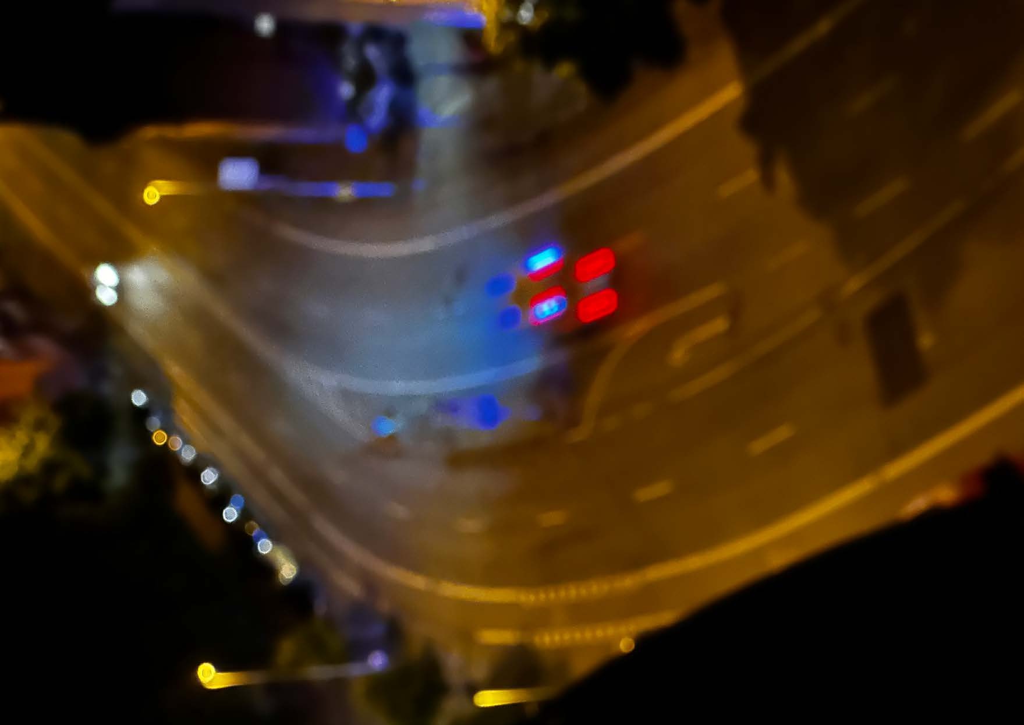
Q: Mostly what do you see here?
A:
paved ground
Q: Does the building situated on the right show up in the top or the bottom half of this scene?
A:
bottom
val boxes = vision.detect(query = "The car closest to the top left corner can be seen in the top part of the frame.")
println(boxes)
[44,265,111,307]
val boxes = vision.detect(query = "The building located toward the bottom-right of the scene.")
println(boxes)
[551,466,1024,725]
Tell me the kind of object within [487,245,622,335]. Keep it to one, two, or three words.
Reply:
truck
